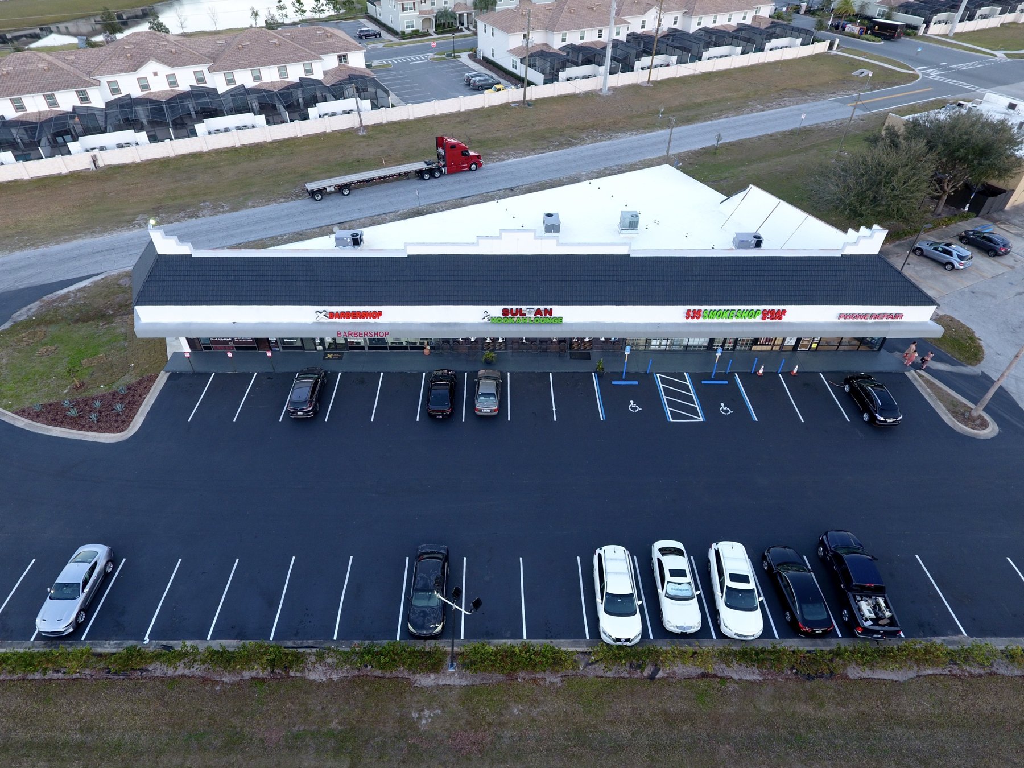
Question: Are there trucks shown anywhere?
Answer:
Yes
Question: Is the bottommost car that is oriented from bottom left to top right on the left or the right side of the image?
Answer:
left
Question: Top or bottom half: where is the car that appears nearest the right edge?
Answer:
top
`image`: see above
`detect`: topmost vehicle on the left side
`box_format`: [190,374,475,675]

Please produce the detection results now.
[355,25,383,39]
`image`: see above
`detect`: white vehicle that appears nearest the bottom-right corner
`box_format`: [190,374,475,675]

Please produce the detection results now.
[709,543,769,636]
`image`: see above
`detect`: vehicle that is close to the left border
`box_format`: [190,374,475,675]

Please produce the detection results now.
[28,544,112,633]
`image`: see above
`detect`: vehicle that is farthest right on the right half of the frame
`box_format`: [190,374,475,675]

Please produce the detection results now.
[958,227,1021,258]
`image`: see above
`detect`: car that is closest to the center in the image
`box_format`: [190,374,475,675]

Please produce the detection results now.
[471,366,505,415]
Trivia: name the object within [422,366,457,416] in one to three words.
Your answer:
car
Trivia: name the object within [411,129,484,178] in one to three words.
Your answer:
truck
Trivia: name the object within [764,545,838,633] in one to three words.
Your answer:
car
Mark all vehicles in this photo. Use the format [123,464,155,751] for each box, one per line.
[819,531,913,642]
[283,367,325,416]
[861,13,910,38]
[709,543,769,636]
[593,547,647,643]
[847,374,906,427]
[958,227,1021,258]
[764,545,838,633]
[652,544,707,633]
[422,366,457,416]
[471,366,505,415]
[411,129,484,178]
[400,544,450,635]
[468,71,501,89]
[28,544,112,633]
[355,25,383,39]
[913,238,975,270]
